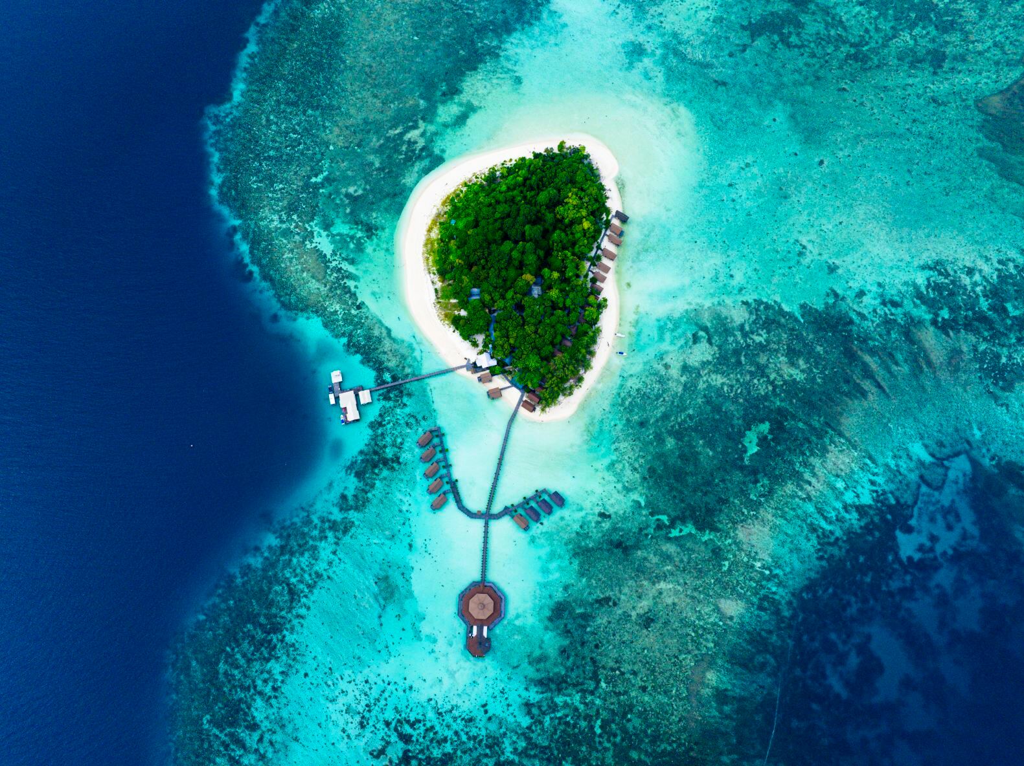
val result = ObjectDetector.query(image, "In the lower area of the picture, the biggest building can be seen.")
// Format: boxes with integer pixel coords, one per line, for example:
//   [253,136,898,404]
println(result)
[458,582,505,657]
